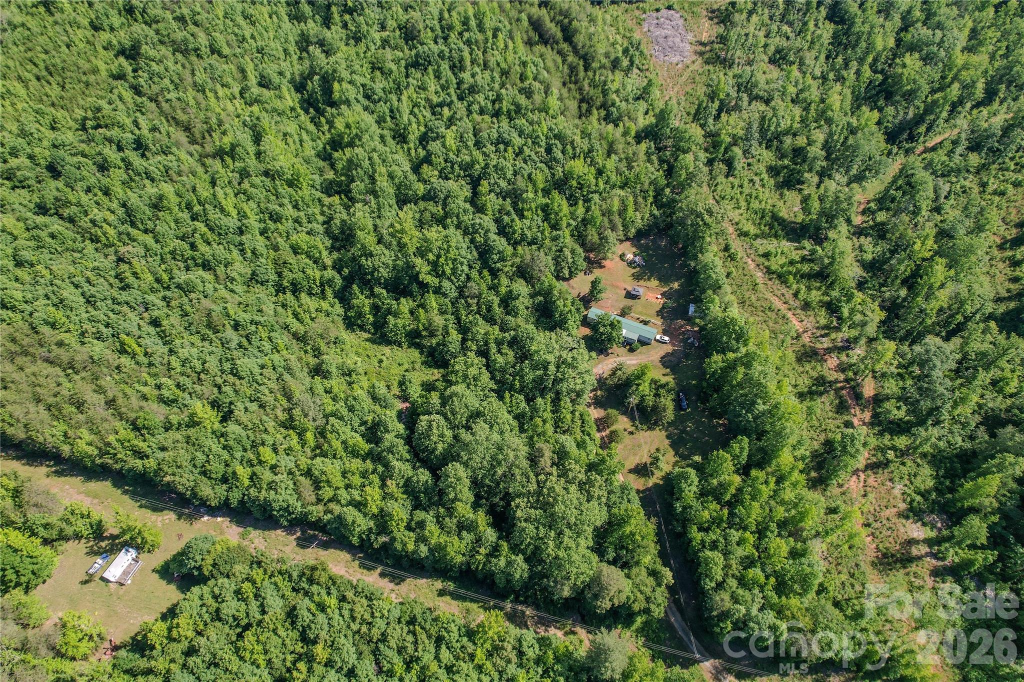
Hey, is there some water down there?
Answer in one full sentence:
No, there's no water in this view.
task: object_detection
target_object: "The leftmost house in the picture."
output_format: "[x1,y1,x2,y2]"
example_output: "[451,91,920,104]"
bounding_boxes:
[588,307,658,347]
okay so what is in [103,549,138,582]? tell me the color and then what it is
white camper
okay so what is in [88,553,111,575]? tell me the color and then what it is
white truck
